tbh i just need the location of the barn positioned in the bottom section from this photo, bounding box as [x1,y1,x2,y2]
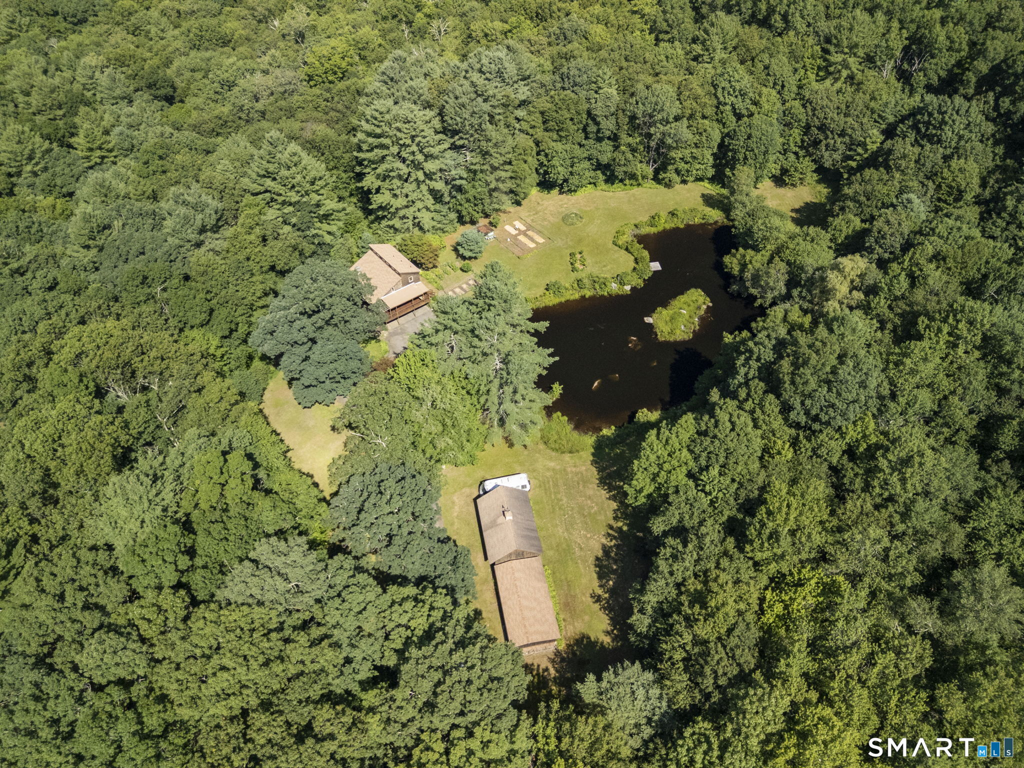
[476,485,560,653]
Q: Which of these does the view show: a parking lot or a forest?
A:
forest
